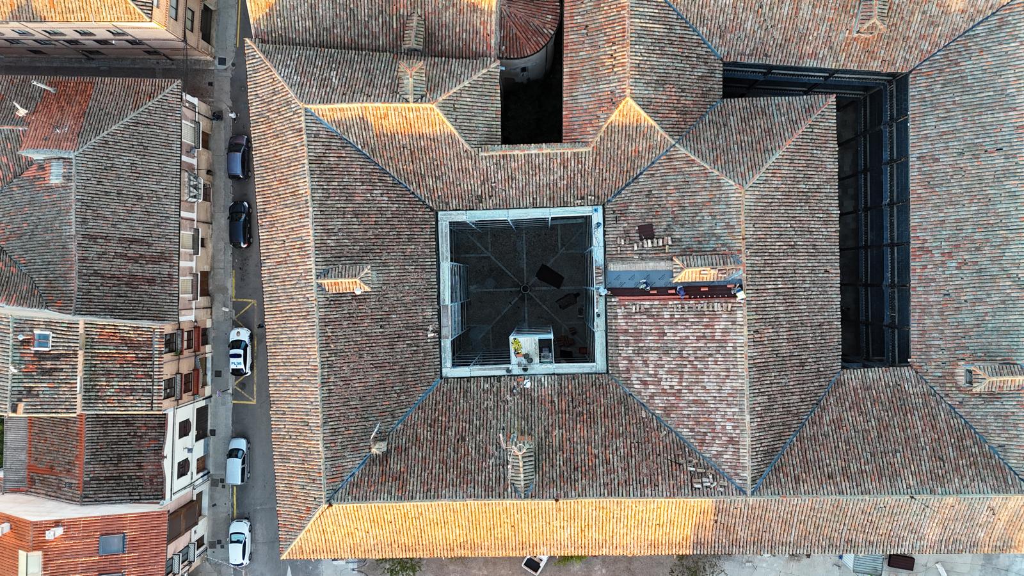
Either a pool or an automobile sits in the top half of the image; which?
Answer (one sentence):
It is an automobile that can be seen in the top half of the image.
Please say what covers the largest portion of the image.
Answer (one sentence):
The bulk of the photo consists of buildings.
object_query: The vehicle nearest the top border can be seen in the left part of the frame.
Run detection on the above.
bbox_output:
[224,135,250,181]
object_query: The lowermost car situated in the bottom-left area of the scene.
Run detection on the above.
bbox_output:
[225,521,252,570]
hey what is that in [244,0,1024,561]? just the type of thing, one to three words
building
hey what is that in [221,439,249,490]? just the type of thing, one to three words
van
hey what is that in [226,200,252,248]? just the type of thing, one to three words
car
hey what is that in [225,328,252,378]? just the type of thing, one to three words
car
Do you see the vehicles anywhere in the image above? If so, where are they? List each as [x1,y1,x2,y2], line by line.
[226,200,252,248]
[221,439,249,490]
[225,328,252,378]
[515,557,550,576]
[224,135,250,181]
[225,521,252,570]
